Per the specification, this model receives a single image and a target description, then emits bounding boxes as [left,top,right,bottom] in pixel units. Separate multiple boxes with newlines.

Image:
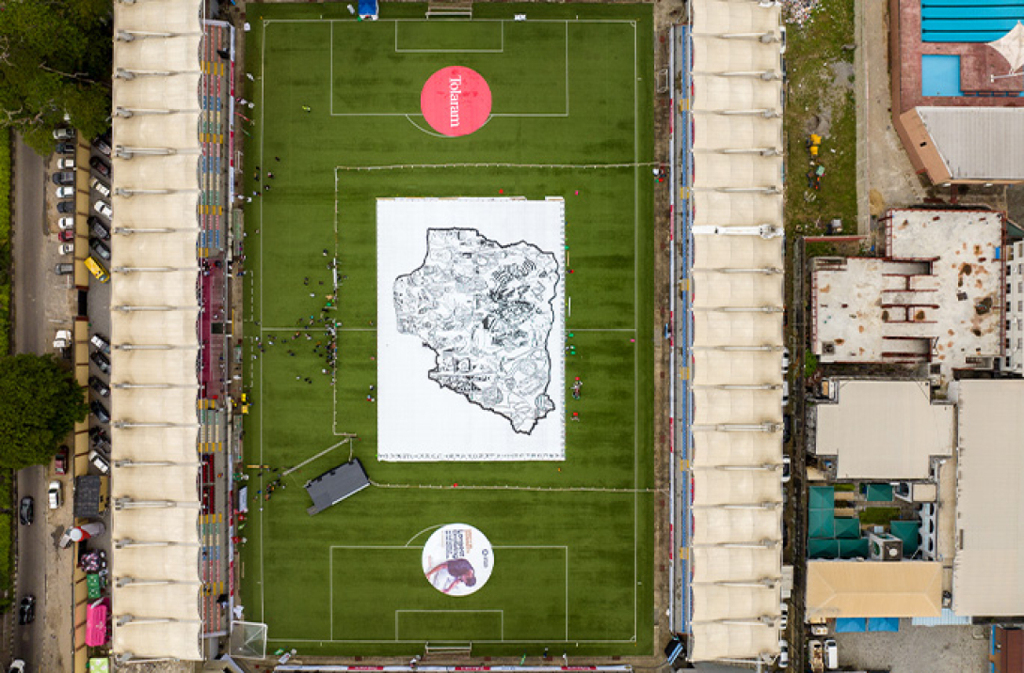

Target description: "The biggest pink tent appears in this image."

[86,599,112,646]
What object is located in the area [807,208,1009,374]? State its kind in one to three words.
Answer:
building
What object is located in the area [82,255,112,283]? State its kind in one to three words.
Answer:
van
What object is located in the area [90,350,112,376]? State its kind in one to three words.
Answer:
car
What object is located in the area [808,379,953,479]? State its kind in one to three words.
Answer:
house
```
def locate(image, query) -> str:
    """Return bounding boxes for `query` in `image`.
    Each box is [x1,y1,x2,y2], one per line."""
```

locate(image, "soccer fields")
[244,2,653,657]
